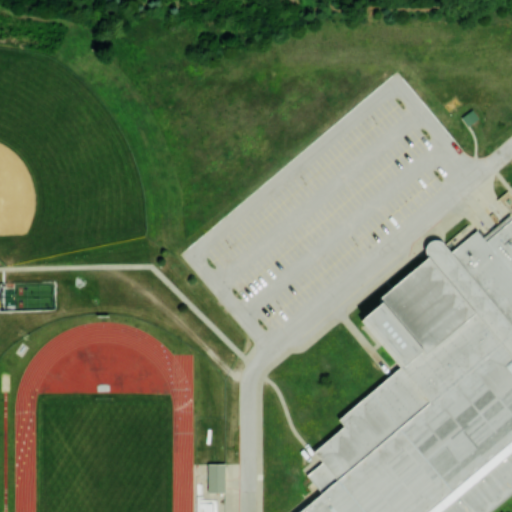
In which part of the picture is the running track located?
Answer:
bottom left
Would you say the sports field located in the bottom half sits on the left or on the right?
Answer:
left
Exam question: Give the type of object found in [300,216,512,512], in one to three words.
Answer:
building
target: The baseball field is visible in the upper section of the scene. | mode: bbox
[0,47,146,266]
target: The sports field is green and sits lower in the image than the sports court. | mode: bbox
[36,394,172,512]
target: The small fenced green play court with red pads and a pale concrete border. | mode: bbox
[0,280,58,314]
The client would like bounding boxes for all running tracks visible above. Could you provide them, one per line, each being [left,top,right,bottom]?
[16,322,194,512]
